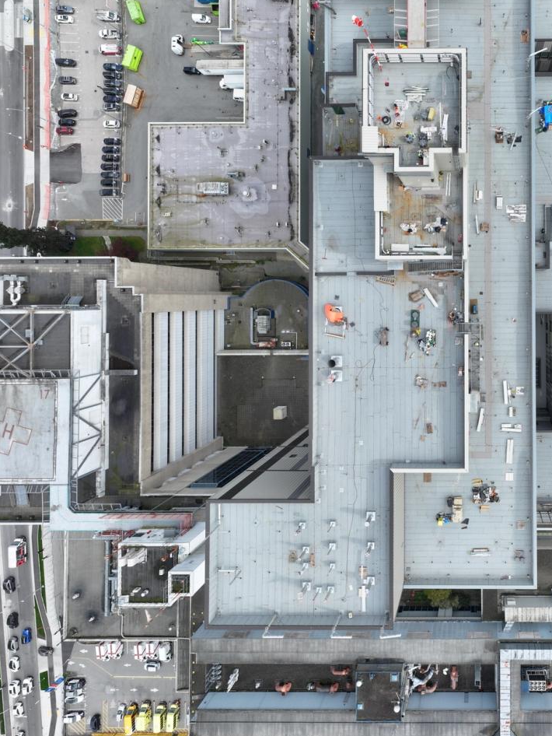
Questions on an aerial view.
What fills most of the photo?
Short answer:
buildings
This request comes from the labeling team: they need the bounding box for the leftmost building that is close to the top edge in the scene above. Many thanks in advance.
[148,0,312,268]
